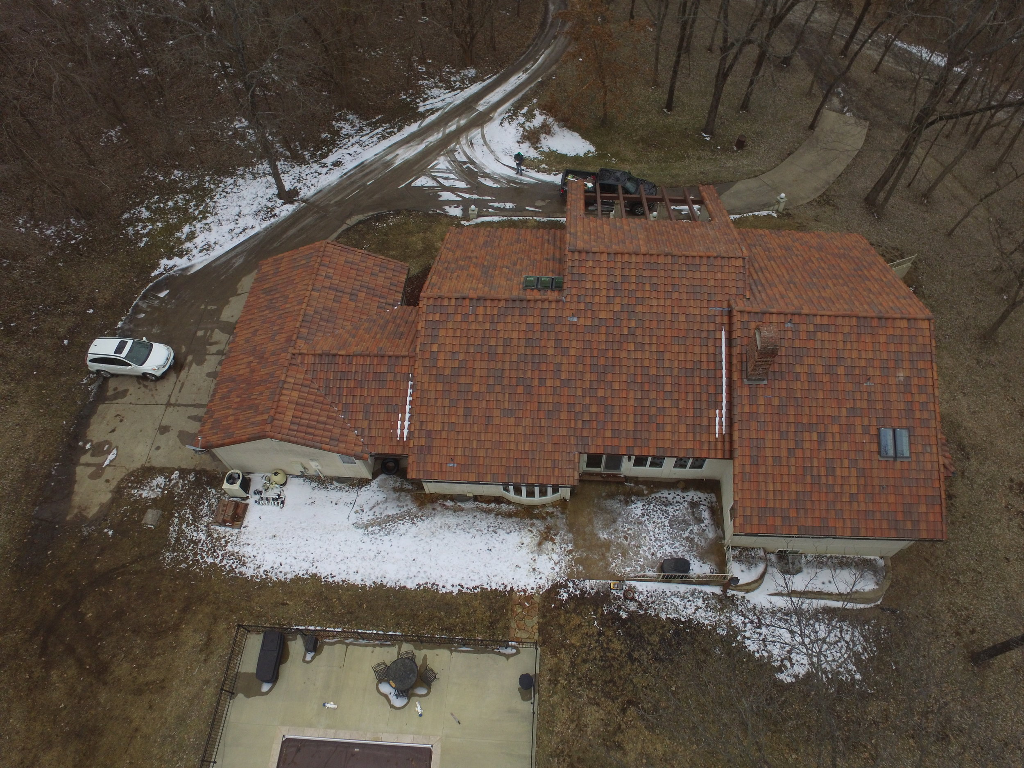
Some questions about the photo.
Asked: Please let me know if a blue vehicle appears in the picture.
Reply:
No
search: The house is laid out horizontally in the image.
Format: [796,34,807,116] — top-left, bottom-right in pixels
[193,180,951,557]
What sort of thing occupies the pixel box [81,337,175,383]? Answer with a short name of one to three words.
car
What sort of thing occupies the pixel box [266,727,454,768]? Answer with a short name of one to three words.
swimming pool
